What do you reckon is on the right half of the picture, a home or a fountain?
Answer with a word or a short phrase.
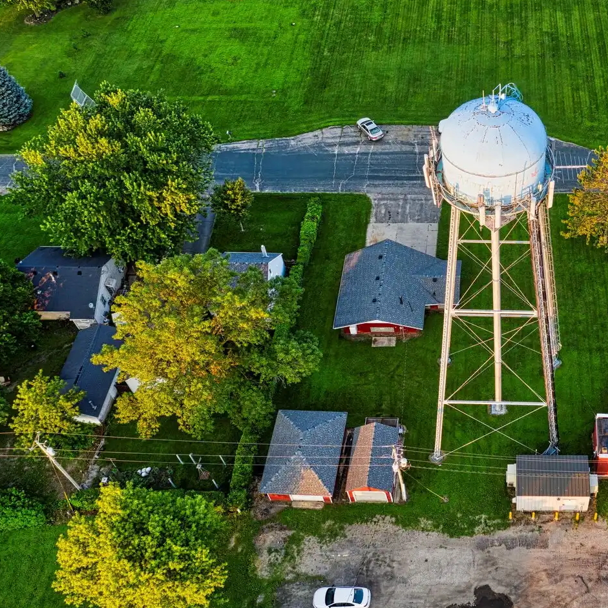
home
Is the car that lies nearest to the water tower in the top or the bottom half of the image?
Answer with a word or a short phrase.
top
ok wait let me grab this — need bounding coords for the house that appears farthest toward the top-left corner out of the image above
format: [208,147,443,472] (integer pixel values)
[12,254,128,344]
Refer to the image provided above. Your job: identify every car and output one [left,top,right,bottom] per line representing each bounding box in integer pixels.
[357,118,385,142]
[312,585,371,608]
